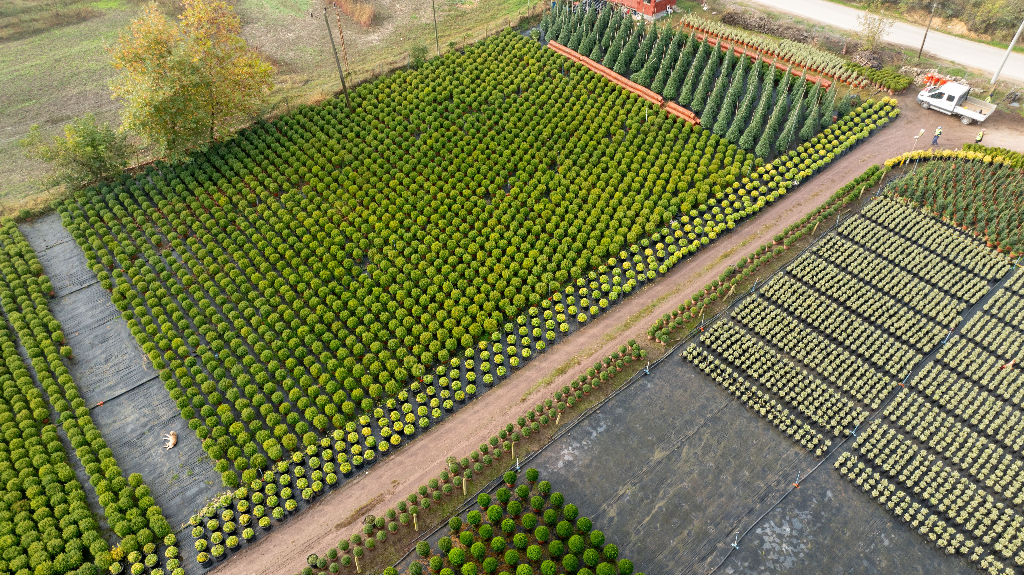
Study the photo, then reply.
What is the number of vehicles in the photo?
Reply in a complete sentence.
The photo contains exactly 1 vehicle.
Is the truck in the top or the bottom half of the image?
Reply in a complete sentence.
It is in the top half that the truck appears.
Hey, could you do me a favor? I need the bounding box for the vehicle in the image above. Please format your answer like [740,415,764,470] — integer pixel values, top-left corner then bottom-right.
[915,85,1001,125]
